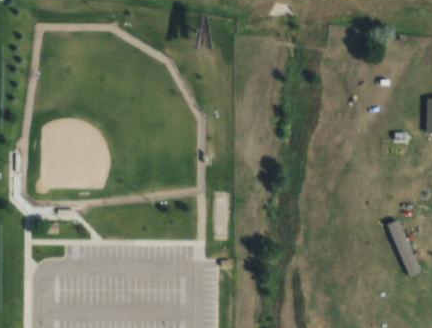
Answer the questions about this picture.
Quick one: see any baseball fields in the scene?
Yes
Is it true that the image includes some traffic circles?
No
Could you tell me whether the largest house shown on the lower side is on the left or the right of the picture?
right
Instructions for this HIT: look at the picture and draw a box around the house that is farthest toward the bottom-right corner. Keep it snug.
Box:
[386,222,420,276]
